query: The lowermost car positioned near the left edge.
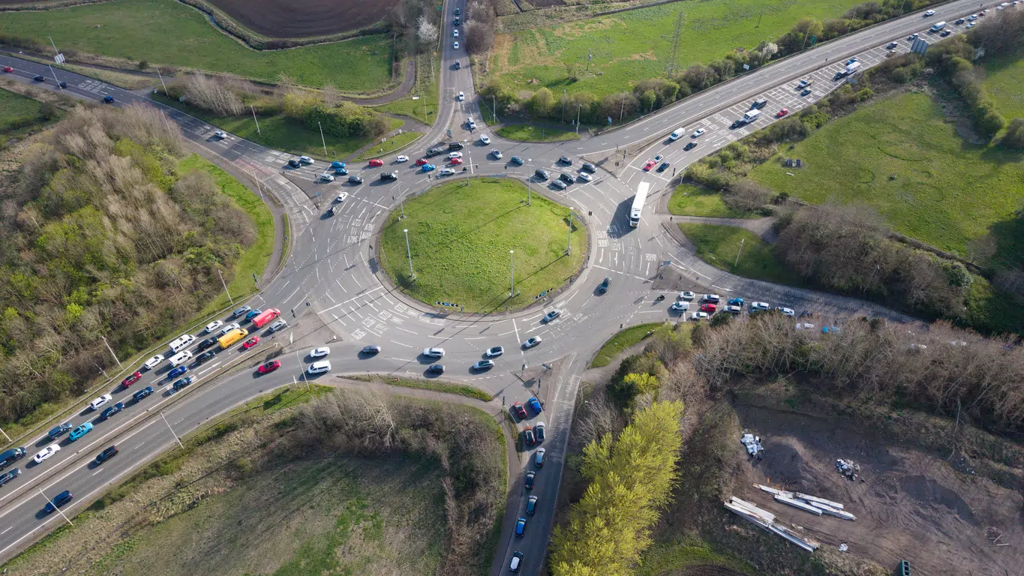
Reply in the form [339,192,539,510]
[46,491,71,511]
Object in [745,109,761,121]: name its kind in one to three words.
vehicle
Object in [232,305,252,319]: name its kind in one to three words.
car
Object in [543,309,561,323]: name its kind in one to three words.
car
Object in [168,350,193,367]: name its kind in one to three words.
vehicle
